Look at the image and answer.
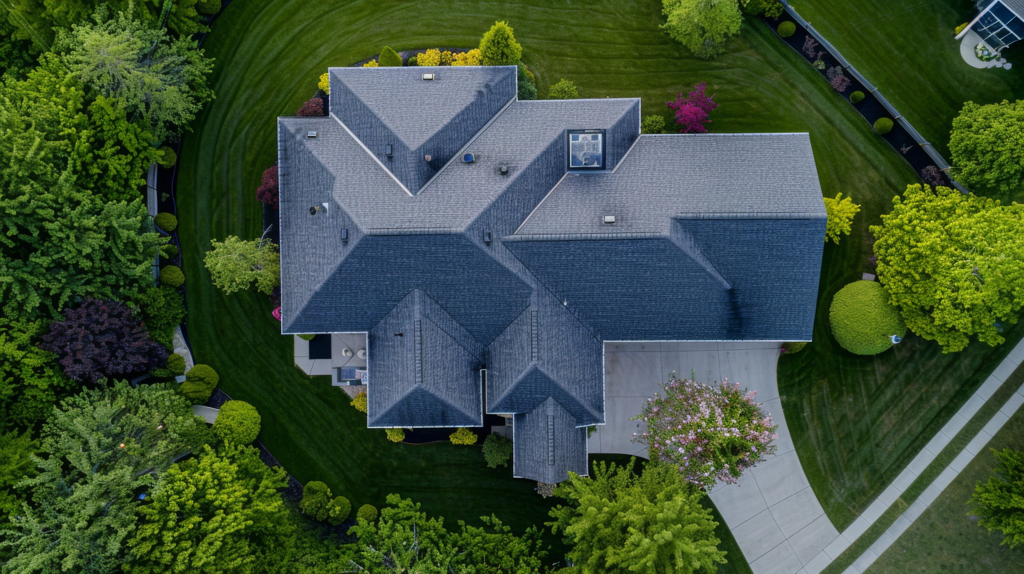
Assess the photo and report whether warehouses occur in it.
No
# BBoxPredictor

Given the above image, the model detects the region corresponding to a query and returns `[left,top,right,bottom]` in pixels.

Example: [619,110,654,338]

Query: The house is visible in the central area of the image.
[277,64,828,483]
